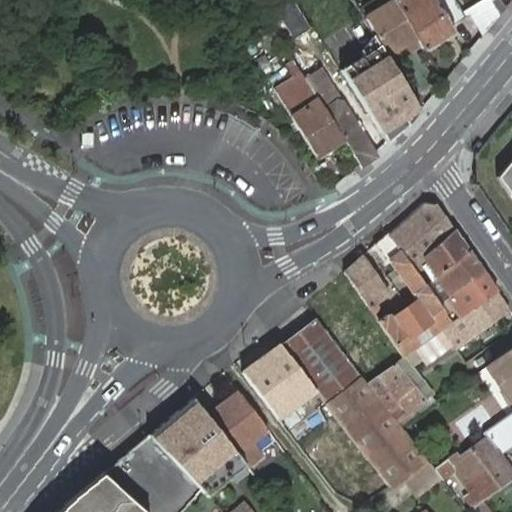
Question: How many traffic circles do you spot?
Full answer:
The photo contains exactly 1 traffic circle.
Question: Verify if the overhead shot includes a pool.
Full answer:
No, the photo shows no pool.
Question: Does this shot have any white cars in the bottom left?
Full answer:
Yes, in the bottom left there is a white car.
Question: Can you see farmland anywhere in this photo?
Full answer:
No, farmland can't be seen anywhere here.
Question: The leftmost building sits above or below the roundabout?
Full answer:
From this view, the leftmost building can be seen below the roundabout.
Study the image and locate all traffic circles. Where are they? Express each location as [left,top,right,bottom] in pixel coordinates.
[78,187,260,368]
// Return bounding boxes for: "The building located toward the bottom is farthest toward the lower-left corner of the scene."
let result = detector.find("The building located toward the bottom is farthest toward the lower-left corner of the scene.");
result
[64,474,145,512]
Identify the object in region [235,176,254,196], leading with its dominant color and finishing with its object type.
white car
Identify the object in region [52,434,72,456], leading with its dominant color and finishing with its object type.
white car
